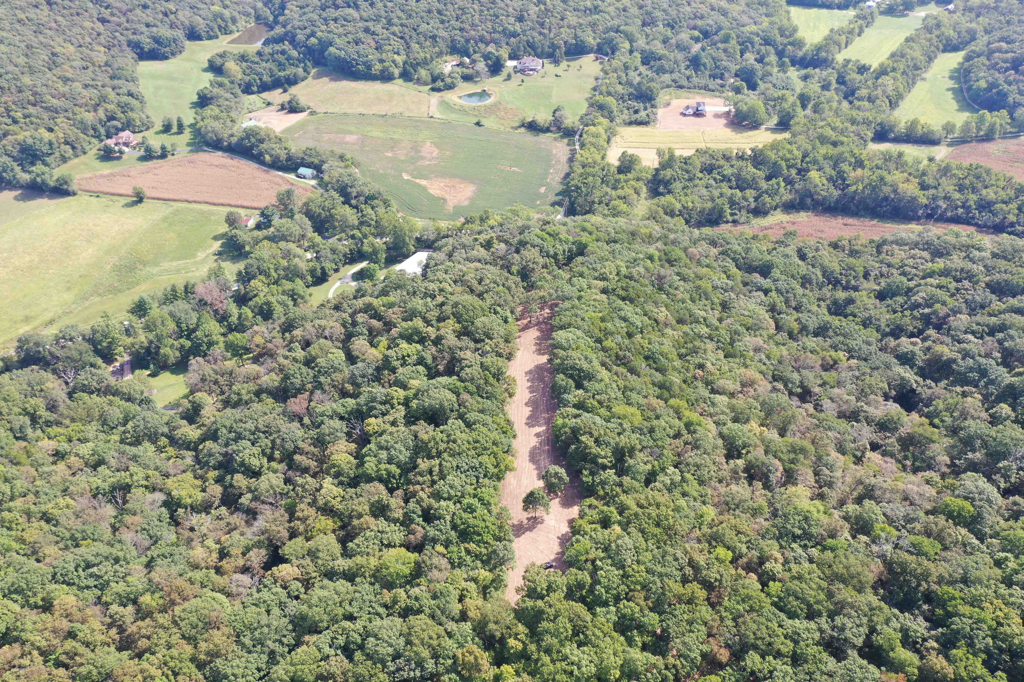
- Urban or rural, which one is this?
rural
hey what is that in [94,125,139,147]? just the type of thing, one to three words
house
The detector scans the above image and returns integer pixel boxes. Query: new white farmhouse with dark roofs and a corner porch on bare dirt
[682,98,710,116]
